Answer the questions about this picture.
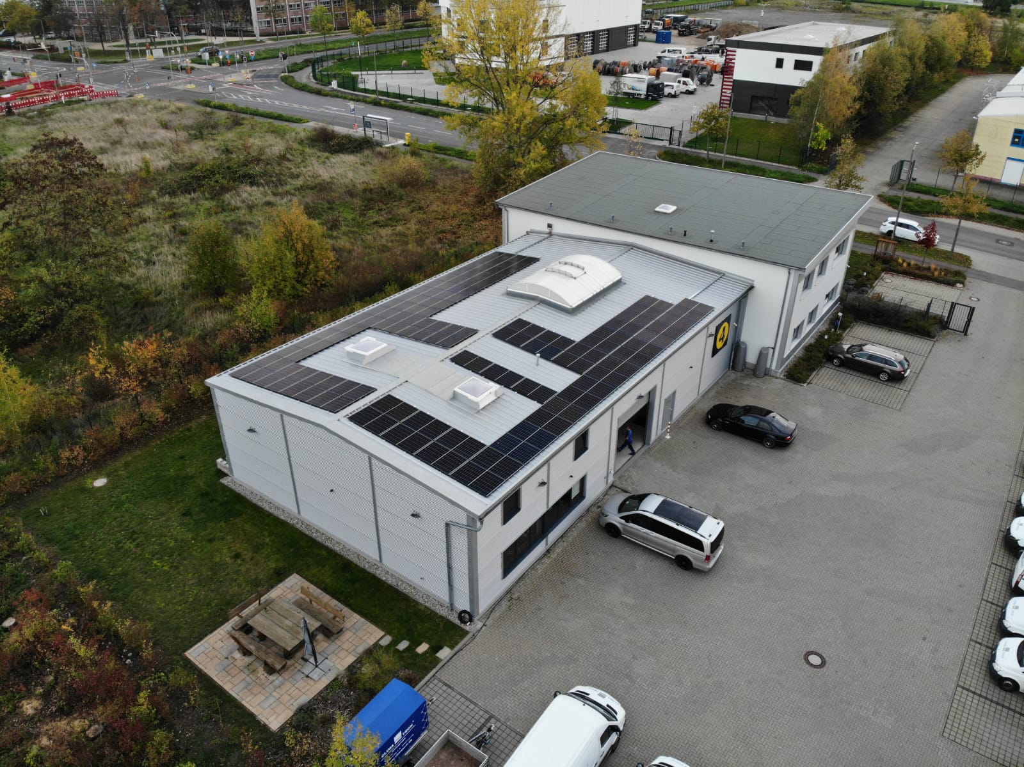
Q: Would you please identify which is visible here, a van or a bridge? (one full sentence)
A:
This aerial view contains a van.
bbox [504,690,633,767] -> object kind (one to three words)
van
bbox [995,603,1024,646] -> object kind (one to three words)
van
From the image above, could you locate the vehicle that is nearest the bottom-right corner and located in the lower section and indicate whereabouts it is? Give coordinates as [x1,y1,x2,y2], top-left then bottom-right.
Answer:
[986,645,1024,702]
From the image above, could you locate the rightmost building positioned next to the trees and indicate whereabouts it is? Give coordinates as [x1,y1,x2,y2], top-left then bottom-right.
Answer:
[964,73,1024,183]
